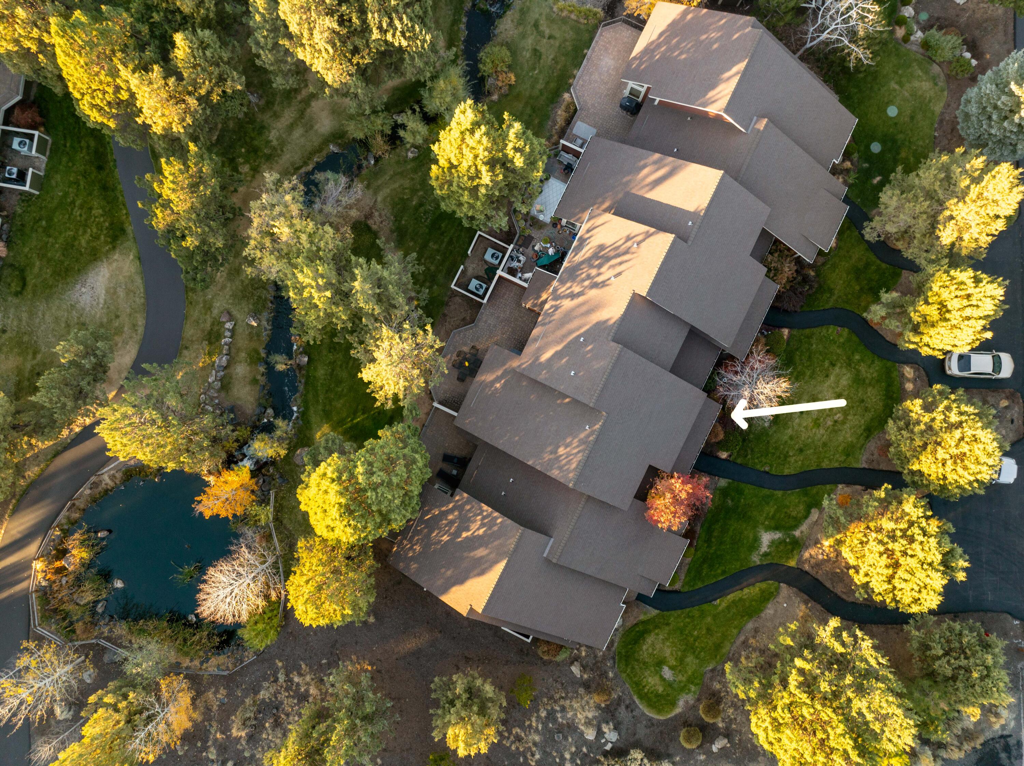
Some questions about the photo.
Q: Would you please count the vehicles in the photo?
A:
2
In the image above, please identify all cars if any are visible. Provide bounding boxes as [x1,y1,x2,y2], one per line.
[998,455,1021,485]
[939,350,1011,380]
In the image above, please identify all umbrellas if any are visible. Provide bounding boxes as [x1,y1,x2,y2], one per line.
[536,252,564,268]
